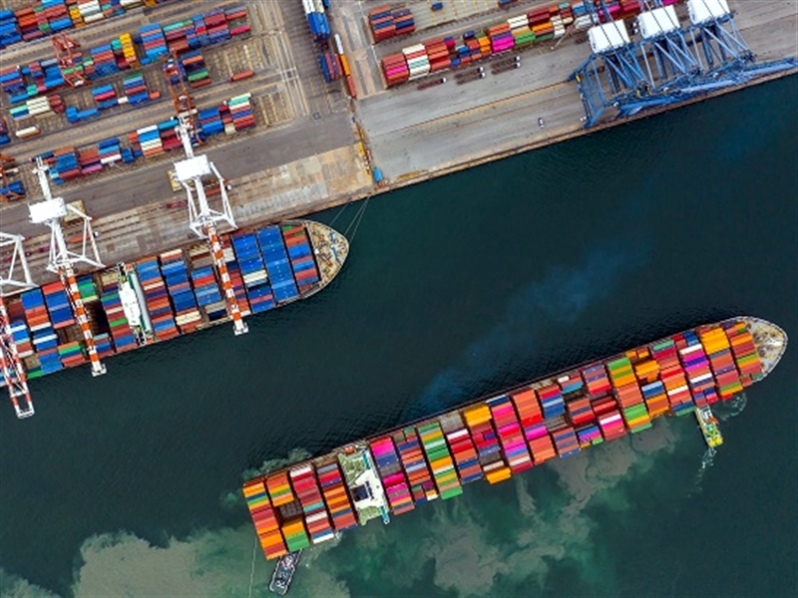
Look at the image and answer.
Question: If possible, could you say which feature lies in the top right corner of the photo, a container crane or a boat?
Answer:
container crane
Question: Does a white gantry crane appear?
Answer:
Yes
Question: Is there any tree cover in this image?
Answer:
No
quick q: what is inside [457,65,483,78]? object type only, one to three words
vehicle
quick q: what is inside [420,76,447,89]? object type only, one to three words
vehicle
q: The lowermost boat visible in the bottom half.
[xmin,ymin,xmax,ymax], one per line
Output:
[273,553,298,598]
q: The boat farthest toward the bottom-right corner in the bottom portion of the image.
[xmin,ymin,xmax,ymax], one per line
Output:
[701,407,725,450]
